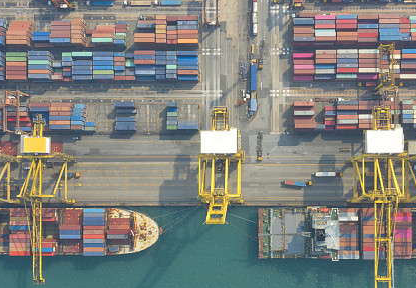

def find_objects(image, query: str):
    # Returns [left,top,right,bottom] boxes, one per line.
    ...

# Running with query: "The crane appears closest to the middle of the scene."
[195,104,249,226]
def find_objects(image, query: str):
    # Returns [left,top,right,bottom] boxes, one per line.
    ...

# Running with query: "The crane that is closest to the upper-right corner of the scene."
[368,44,396,94]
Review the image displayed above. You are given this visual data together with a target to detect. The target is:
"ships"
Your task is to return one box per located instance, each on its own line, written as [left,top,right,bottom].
[0,208,163,256]
[254,208,416,287]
